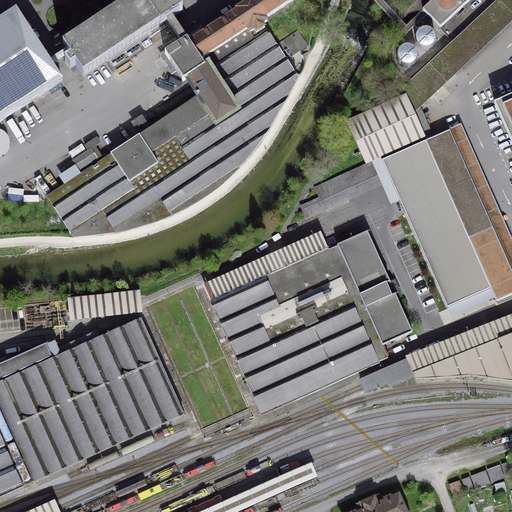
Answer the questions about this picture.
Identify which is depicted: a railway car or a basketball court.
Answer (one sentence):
Looking from above, you can make out a railway car.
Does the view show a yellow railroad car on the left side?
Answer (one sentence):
Yes, there is a yellow railroad car on the left side.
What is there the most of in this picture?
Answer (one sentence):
The scene is dominated by buildings.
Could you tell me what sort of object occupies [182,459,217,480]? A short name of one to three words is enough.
rail car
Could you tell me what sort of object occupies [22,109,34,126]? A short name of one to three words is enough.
vehicle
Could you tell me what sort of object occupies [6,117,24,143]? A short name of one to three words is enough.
vehicle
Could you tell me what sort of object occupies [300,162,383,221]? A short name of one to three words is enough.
shed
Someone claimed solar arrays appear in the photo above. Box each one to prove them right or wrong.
[0,51,46,110]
